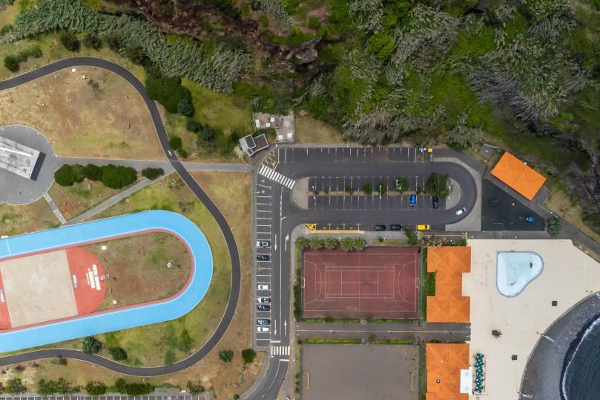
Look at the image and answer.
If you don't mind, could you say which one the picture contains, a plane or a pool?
pool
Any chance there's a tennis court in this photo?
Yes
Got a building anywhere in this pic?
Yes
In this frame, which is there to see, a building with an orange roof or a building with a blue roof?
building with an orange roof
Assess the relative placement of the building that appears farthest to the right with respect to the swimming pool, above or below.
above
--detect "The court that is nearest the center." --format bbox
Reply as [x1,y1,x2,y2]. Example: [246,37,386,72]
[301,246,420,318]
